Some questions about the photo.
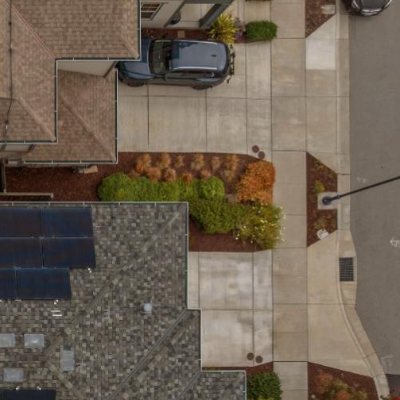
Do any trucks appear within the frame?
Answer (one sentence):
No, the picture doesn't show any truck.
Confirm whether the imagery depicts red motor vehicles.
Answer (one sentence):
No, I can see no red motor vehicle in this picture.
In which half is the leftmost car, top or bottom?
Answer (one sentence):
The leftmost car is in the top half of the image.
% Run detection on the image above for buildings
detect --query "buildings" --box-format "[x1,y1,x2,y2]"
[0,0,228,166]
[0,201,247,400]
